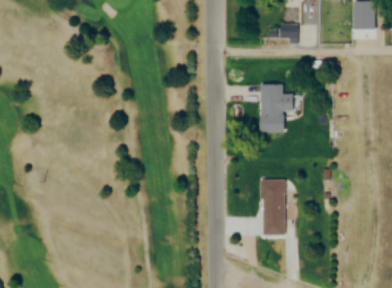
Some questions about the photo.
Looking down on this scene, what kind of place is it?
golf course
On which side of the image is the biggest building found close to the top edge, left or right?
right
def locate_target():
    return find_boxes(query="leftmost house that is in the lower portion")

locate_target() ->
[261,180,286,235]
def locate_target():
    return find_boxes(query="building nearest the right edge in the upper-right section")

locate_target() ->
[354,1,376,40]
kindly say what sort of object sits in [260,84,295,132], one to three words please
house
